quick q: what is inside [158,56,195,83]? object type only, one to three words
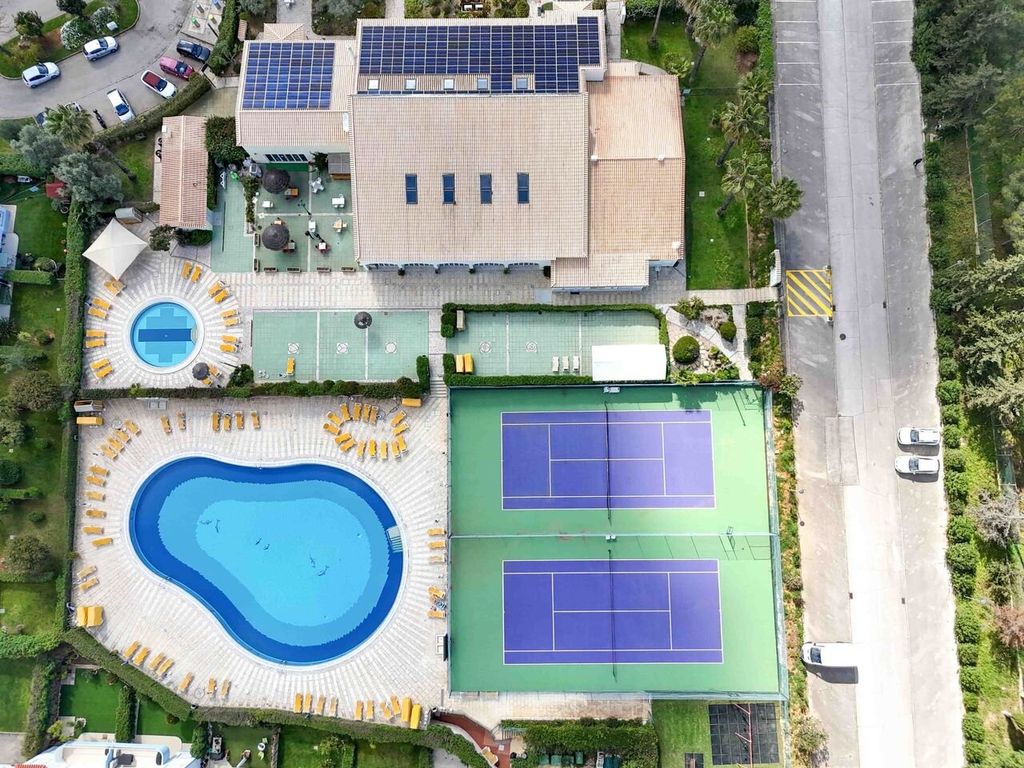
car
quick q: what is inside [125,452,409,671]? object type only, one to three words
swimming pool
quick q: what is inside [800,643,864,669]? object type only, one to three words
vehicle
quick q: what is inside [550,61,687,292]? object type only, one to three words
building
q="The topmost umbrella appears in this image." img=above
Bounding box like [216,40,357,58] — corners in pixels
[263,169,290,195]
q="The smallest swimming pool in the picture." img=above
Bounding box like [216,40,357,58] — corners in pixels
[125,295,207,376]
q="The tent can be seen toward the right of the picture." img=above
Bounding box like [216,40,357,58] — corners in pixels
[591,344,667,382]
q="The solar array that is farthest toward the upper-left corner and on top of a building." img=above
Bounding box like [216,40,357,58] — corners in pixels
[242,42,335,108]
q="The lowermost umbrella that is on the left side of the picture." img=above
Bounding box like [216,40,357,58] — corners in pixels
[194,363,213,380]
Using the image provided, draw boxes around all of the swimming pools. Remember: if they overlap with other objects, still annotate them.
[125,452,409,671]
[125,295,207,376]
